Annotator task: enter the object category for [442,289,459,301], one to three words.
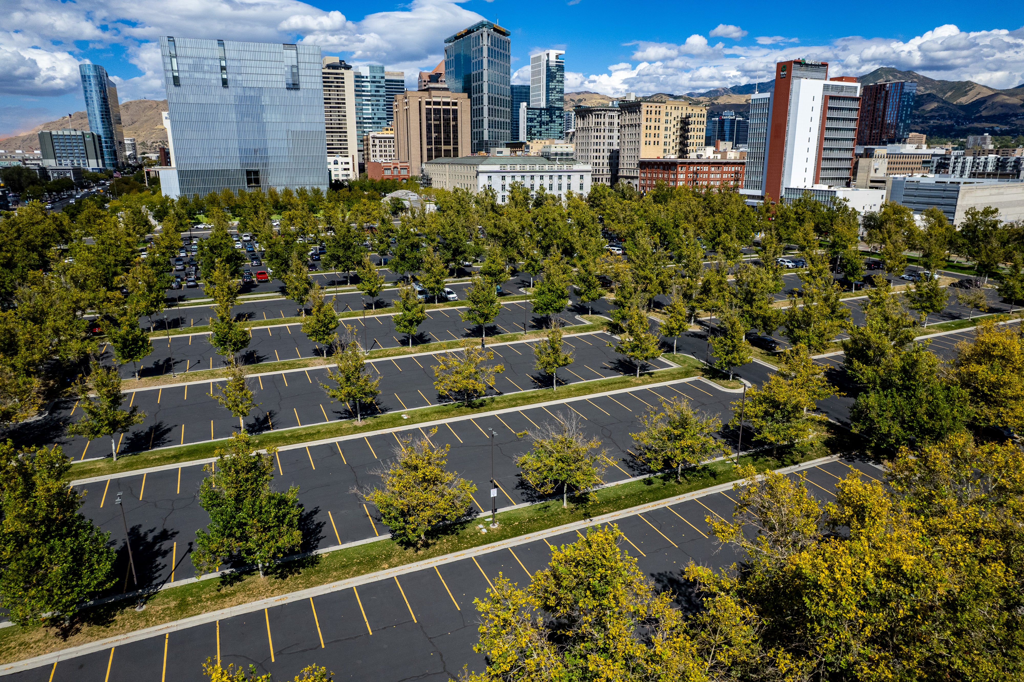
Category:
vehicle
